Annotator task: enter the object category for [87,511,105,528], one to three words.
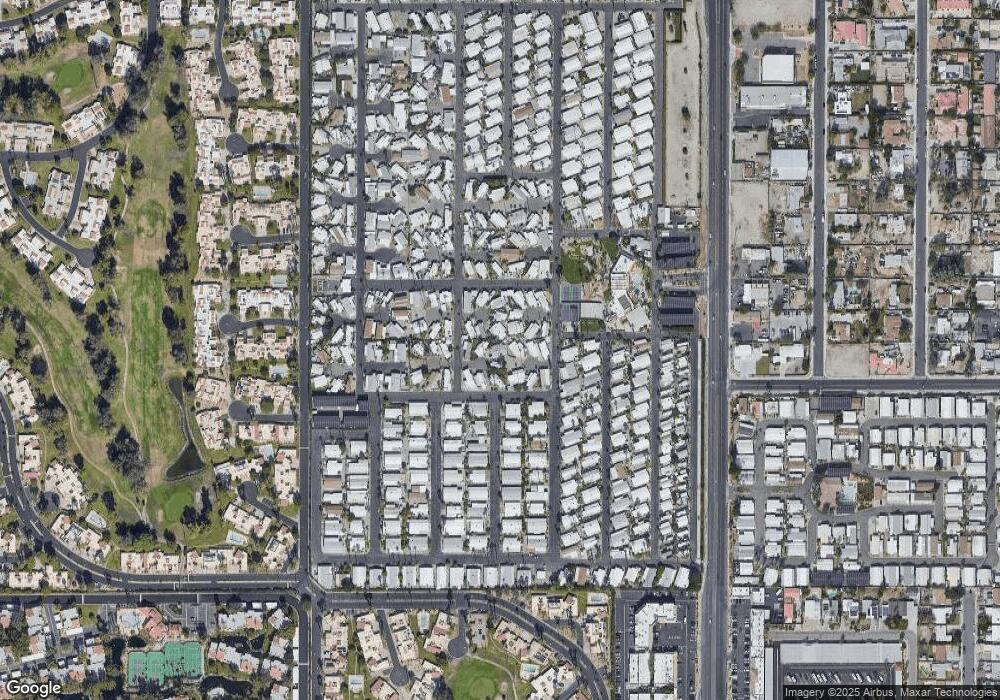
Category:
swimming pool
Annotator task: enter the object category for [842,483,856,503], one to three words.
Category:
swimming pool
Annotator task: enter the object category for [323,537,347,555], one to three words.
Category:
house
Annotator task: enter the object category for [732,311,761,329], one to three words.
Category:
building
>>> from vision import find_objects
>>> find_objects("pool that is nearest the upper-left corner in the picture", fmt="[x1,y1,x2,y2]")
[89,28,112,50]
